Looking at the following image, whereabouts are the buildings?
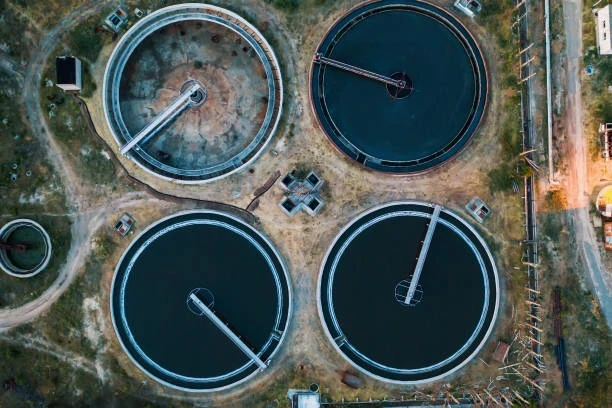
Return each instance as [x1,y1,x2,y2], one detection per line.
[290,386,322,408]
[595,4,612,53]
[56,57,82,92]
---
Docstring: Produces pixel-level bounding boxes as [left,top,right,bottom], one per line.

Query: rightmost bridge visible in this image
[404,204,441,305]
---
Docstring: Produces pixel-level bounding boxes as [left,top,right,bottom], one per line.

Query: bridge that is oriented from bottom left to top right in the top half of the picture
[118,82,201,156]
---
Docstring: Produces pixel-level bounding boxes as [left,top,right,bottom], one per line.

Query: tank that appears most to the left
[0,219,53,278]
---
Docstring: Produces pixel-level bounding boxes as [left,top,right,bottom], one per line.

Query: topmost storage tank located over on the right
[309,0,488,176]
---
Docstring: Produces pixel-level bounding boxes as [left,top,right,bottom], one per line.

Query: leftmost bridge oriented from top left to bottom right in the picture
[189,293,269,370]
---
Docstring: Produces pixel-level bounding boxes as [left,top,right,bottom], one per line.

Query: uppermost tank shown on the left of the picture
[103,4,283,183]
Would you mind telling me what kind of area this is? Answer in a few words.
industrial area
